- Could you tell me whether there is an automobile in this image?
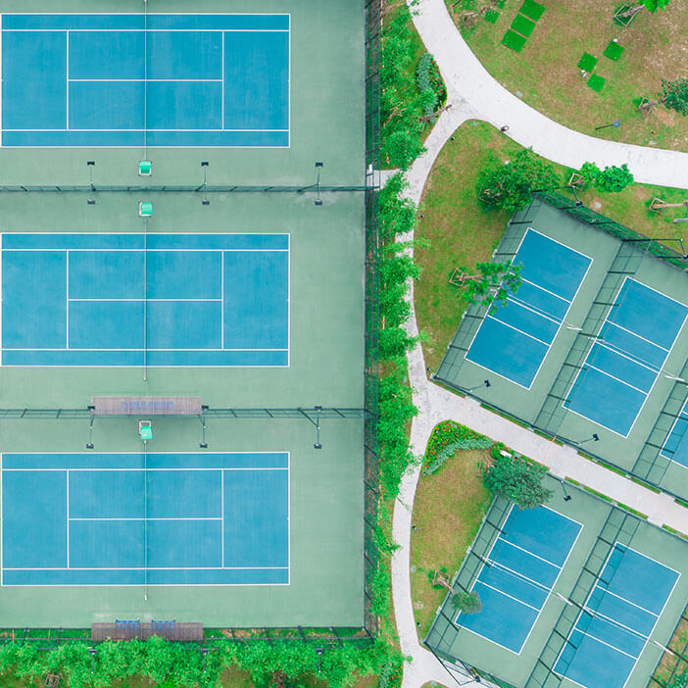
No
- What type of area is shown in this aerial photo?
sports ground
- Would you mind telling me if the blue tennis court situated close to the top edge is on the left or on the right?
left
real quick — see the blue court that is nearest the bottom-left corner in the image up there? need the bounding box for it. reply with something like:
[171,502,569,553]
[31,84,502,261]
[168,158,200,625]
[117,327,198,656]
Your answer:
[0,453,291,587]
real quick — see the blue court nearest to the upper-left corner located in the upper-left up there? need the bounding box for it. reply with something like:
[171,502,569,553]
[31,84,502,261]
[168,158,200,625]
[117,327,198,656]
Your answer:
[0,11,291,148]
